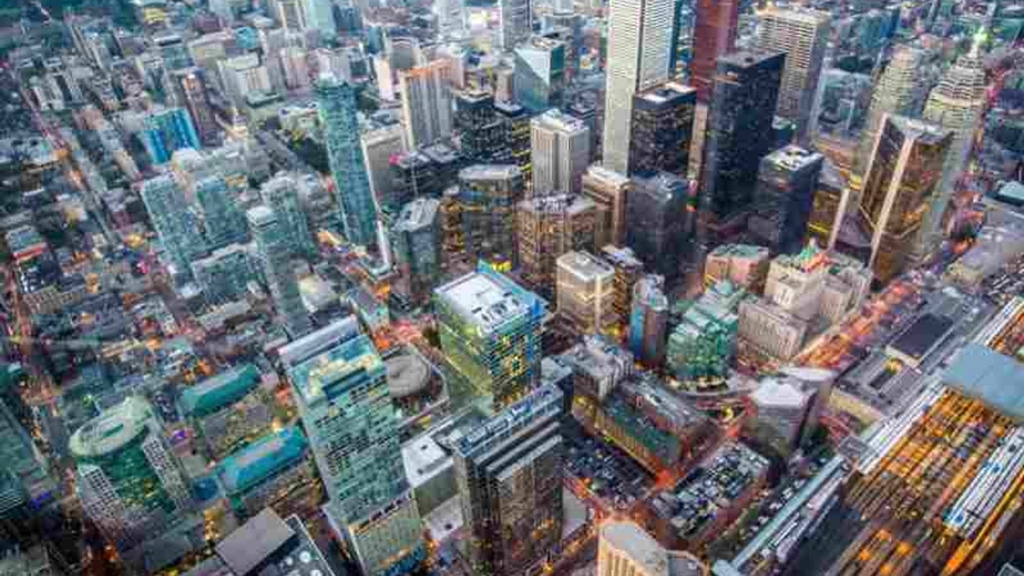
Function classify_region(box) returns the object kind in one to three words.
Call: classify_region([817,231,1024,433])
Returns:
train station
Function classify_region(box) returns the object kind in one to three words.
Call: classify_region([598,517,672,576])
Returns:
building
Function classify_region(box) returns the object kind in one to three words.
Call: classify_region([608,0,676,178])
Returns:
building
